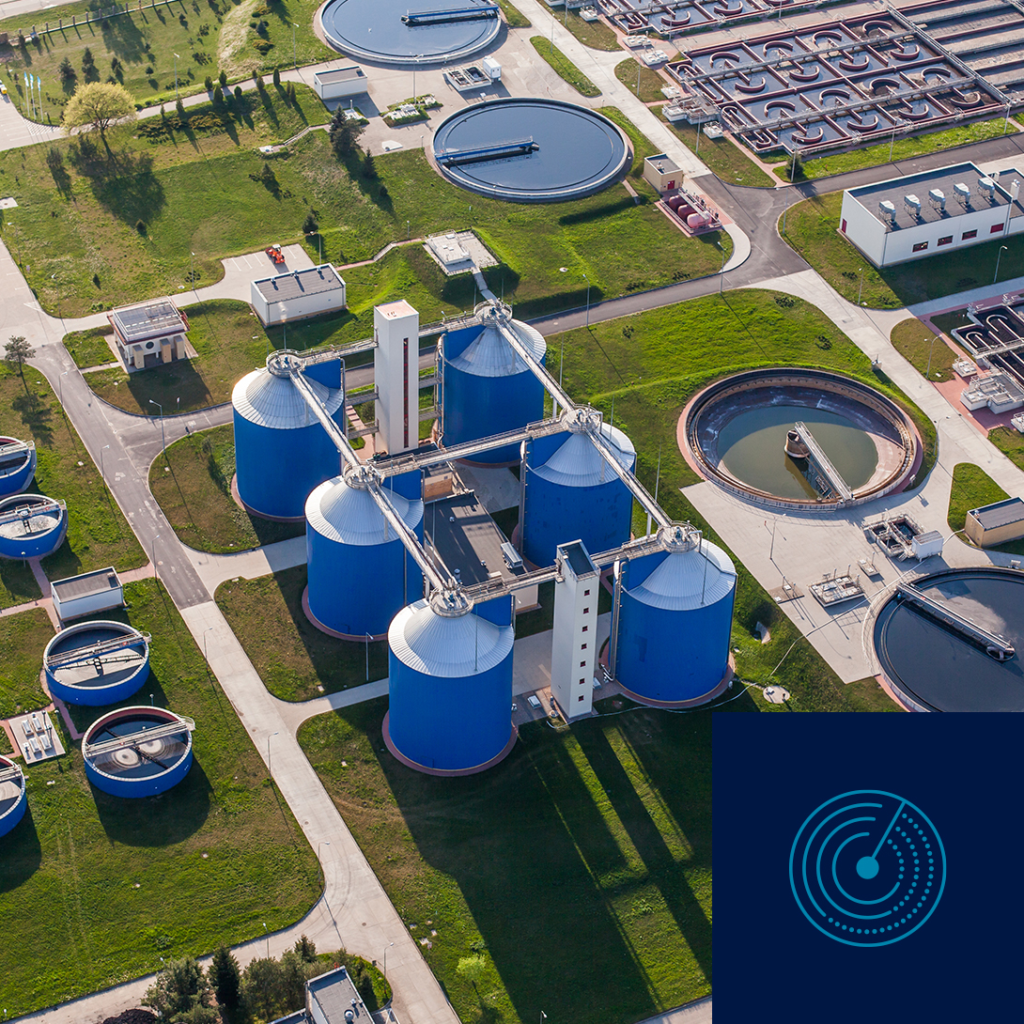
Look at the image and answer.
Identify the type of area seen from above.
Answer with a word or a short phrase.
industrial area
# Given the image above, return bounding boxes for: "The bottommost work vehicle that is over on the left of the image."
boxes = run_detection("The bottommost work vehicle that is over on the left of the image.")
[258,240,291,264]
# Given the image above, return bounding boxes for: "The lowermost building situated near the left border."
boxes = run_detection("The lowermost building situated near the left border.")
[49,564,125,620]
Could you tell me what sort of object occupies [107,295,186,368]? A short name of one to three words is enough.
building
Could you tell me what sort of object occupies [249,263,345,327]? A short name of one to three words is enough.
building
